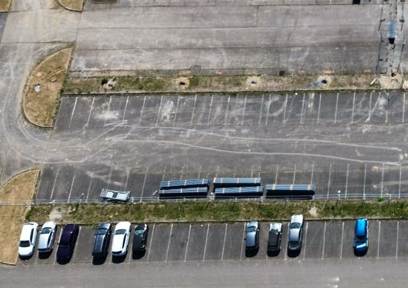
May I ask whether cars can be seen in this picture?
Yes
